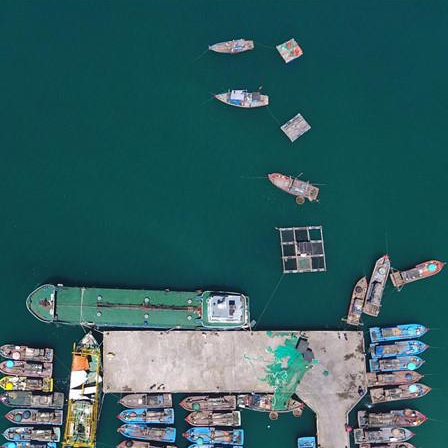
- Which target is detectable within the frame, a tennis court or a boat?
boat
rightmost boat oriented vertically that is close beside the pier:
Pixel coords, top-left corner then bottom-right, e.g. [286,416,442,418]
[362,254,388,316]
